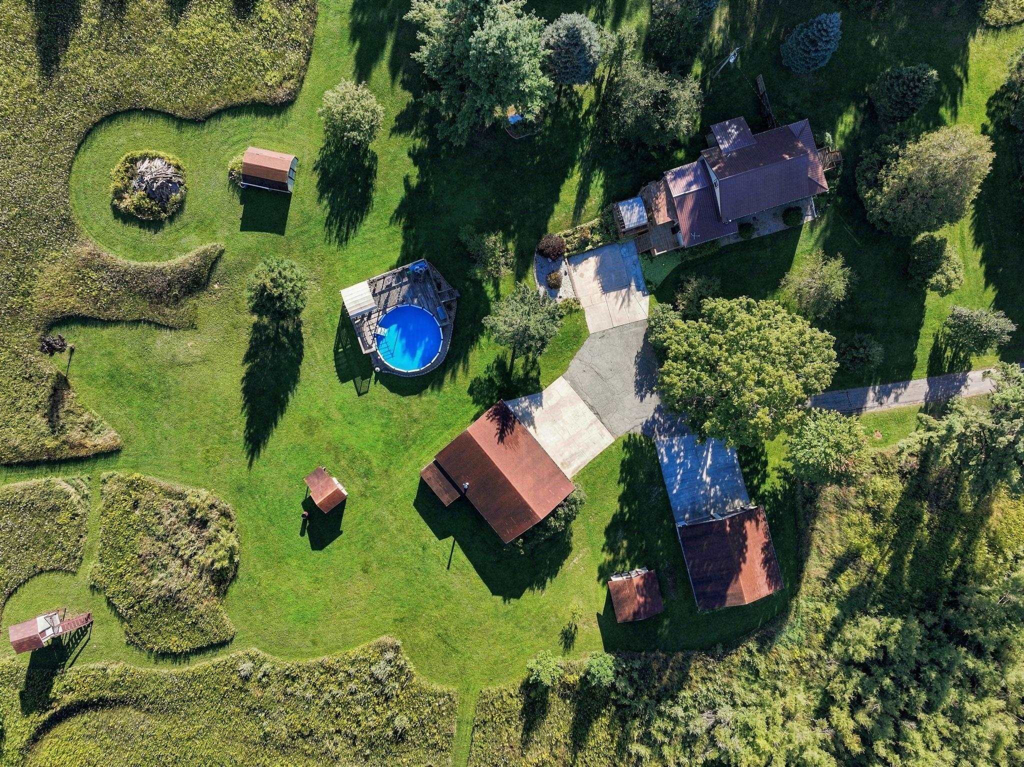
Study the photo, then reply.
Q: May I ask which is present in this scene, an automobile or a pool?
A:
pool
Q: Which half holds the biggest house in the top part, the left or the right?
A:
right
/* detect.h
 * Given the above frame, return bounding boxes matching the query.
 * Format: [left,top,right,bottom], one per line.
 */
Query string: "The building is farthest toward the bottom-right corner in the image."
[676,504,784,610]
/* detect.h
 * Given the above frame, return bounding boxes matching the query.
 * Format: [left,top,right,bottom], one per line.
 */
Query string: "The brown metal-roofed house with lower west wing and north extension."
[661,117,829,252]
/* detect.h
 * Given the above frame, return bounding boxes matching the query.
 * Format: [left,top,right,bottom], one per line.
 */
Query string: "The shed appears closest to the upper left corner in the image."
[239,147,301,196]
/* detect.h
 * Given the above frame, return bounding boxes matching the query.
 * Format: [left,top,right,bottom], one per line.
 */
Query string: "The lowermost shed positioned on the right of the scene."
[607,566,664,622]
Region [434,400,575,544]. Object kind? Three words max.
building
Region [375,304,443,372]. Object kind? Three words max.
swimming pool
